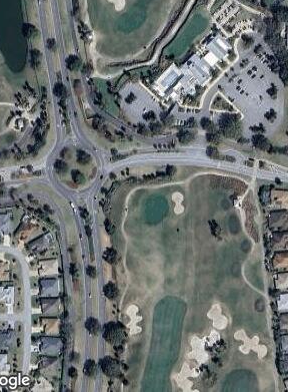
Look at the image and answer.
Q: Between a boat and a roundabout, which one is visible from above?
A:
roundabout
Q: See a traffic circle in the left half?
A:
Yes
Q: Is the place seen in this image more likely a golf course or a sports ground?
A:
golf course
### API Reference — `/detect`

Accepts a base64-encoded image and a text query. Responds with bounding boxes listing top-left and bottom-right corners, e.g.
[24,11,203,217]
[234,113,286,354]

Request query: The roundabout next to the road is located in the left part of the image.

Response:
[46,137,107,198]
